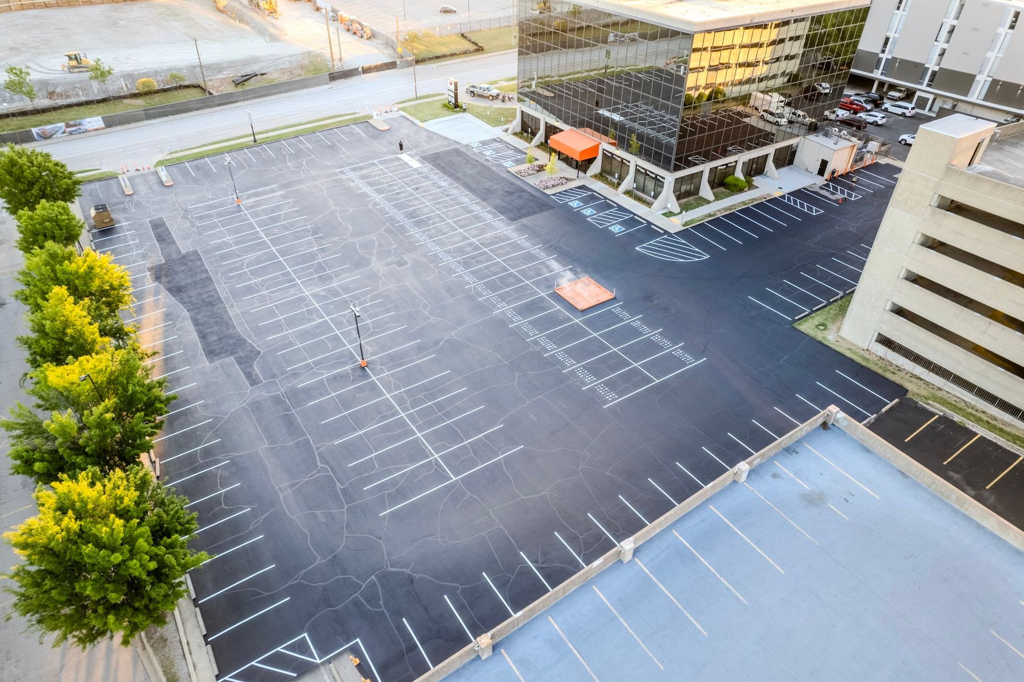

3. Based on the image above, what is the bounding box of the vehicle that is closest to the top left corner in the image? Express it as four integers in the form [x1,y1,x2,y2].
[61,53,92,74]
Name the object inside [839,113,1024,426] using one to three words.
building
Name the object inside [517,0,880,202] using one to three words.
building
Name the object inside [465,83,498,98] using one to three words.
vehicle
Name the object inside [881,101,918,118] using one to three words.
car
